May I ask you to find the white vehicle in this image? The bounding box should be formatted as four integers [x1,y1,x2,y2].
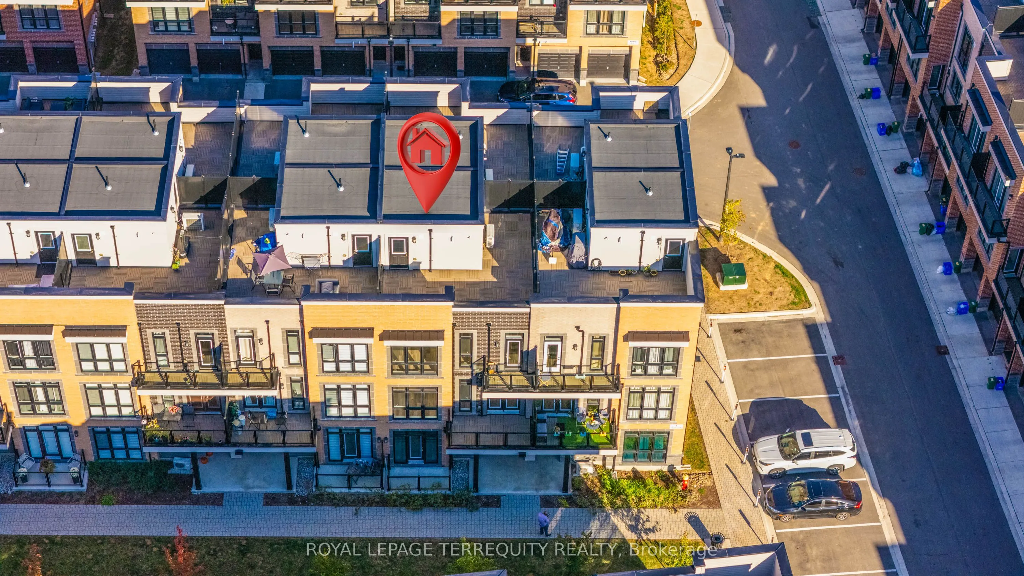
[751,429,860,483]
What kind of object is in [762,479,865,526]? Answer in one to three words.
car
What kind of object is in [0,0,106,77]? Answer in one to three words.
house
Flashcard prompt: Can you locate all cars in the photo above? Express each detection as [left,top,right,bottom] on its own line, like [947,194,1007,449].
[762,479,865,526]
[496,77,580,101]
[751,429,860,483]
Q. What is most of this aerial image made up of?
buildings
